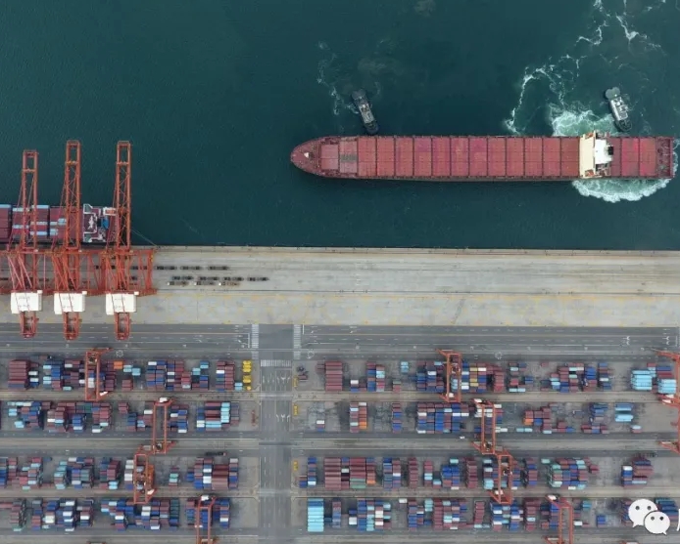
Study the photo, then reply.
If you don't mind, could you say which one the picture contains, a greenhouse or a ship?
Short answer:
ship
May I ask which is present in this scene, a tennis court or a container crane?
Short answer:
container crane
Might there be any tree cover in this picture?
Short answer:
No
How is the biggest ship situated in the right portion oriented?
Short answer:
from left to right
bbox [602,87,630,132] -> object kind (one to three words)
boat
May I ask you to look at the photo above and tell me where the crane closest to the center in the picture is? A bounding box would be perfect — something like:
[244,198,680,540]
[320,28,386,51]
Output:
[435,348,462,404]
